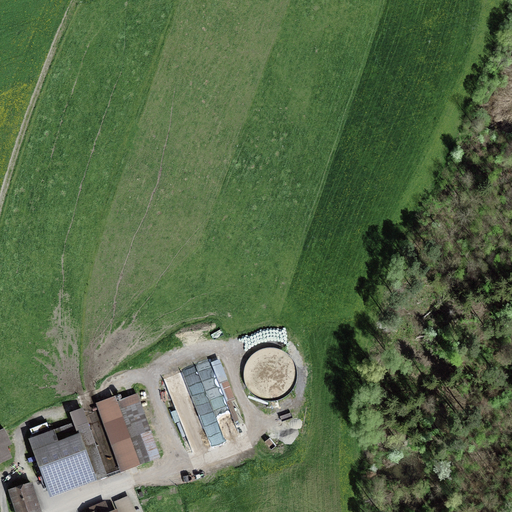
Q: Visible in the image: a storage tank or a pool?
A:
storage tank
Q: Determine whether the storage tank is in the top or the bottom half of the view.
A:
bottom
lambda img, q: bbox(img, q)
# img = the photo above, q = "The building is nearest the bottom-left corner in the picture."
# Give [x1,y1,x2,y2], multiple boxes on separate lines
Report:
[8,481,42,512]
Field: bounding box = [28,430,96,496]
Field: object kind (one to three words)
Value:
barn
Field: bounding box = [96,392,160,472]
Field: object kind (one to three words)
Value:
barn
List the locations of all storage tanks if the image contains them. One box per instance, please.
[242,346,296,400]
